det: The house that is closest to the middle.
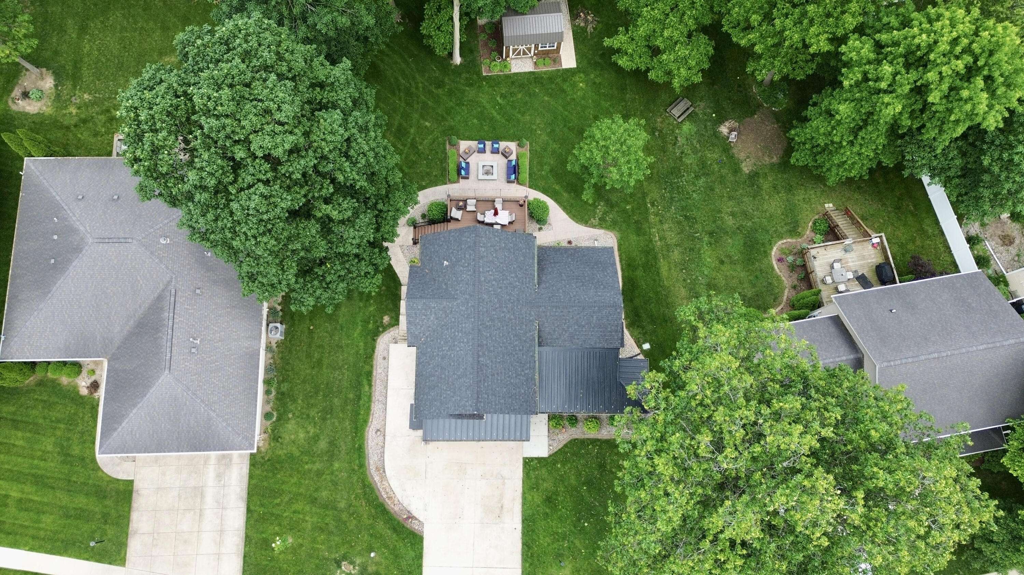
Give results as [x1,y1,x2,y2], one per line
[406,226,651,444]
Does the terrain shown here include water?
No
